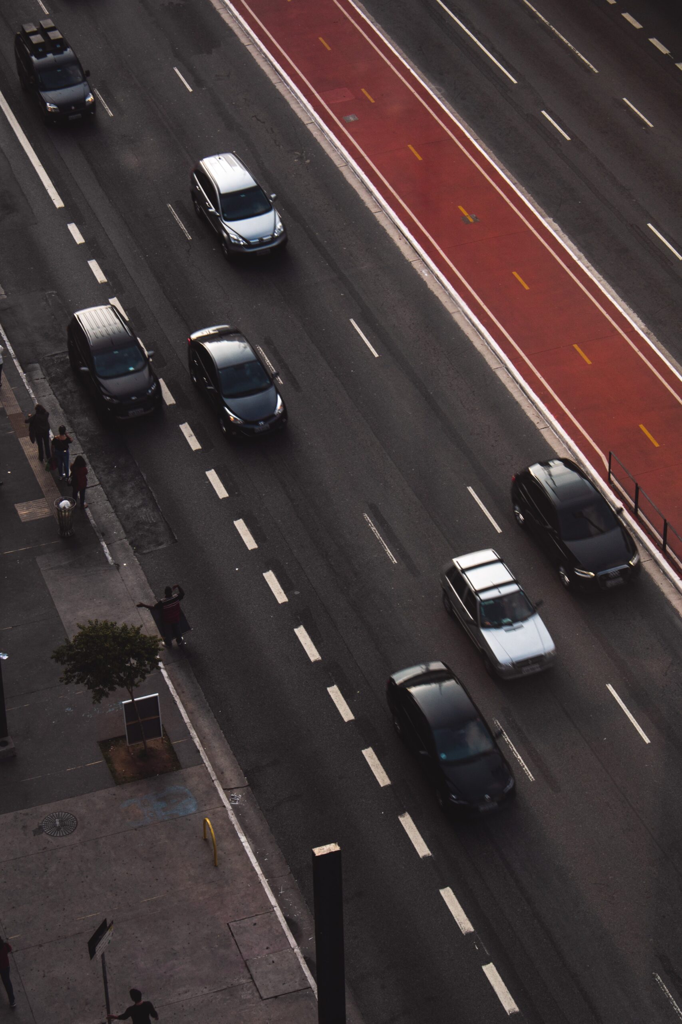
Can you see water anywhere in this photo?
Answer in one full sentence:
No, the picture contains no water.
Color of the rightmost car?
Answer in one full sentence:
In this view, the rightmost car is black.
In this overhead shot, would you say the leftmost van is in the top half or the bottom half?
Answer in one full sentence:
The leftmost van sits in the top half of the picture.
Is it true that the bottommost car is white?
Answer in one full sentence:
No, from above the bottommost car looks black.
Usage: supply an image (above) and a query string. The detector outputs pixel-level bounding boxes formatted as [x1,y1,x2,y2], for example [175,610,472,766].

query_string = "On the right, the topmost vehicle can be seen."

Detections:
[510,457,637,586]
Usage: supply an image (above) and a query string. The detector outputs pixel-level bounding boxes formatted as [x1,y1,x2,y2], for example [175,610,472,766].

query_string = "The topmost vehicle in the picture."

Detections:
[15,27,95,124]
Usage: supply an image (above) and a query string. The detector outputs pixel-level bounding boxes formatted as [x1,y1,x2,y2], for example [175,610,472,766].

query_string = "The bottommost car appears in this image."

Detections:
[383,662,516,814]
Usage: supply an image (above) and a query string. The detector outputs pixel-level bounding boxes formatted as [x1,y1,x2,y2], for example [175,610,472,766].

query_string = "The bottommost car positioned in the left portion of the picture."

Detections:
[187,327,288,437]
